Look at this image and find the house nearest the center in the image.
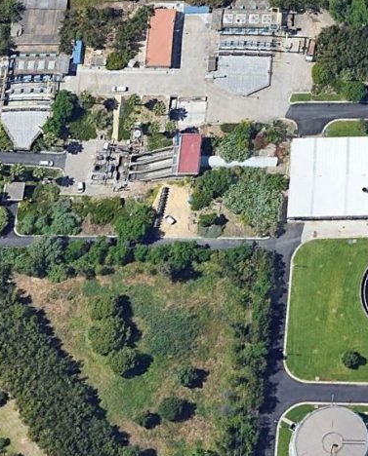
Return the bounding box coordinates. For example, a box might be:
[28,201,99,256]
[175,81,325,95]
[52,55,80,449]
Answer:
[178,134,204,180]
